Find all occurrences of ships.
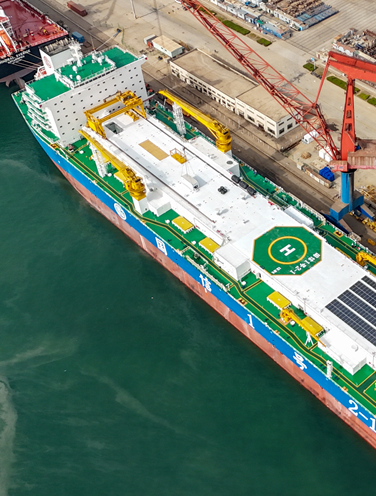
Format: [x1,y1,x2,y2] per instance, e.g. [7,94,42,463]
[12,36,376,446]
[0,0,64,90]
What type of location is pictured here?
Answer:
port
